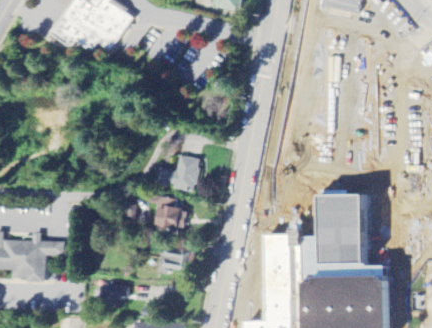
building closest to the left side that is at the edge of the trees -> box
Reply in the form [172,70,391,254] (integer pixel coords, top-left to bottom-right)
[0,232,65,280]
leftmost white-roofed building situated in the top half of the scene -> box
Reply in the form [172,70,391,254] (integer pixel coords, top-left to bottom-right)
[45,0,134,48]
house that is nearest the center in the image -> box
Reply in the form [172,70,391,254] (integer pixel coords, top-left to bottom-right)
[168,154,201,192]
